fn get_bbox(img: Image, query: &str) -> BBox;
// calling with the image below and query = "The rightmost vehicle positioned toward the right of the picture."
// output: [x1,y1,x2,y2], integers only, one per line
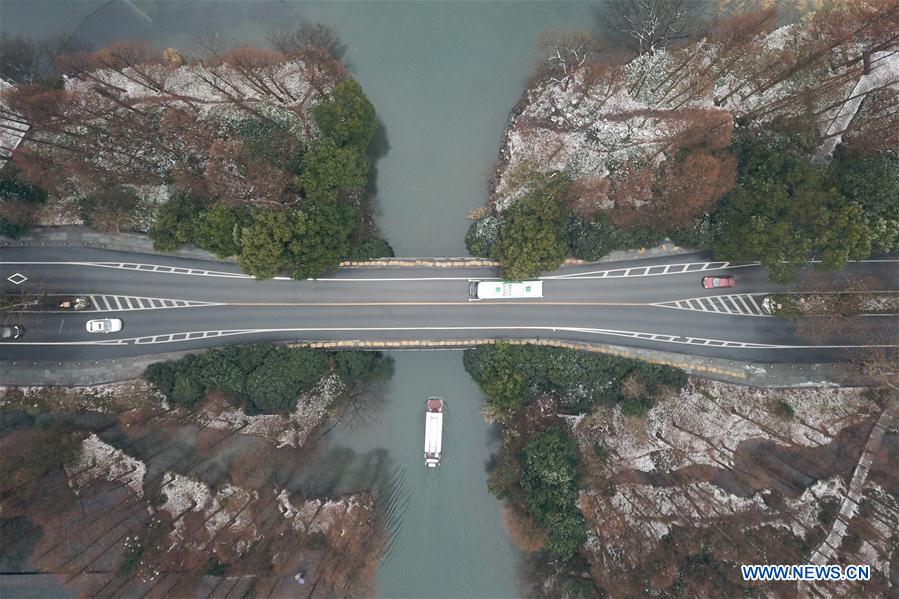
[703,275,738,290]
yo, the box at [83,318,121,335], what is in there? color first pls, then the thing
white car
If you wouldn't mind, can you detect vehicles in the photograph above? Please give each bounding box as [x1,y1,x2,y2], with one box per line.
[0,324,20,341]
[703,275,738,290]
[471,281,546,304]
[83,318,121,335]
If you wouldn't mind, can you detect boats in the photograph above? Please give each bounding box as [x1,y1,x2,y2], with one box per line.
[424,400,442,468]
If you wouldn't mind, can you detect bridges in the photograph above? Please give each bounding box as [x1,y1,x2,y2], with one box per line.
[287,255,746,379]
